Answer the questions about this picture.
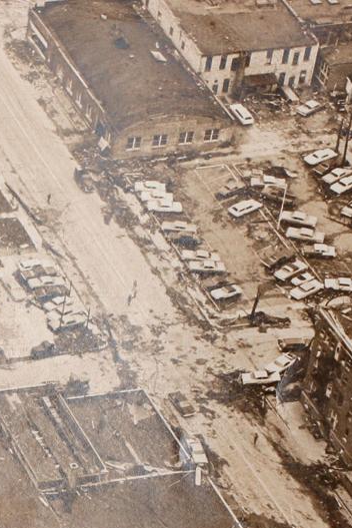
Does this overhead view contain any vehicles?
Yes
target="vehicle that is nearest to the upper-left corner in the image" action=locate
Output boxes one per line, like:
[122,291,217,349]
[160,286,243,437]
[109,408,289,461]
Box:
[74,170,92,192]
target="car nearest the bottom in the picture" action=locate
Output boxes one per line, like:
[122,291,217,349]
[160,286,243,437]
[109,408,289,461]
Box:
[186,437,208,465]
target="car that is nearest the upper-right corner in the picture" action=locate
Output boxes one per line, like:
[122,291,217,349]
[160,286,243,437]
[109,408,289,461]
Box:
[294,97,324,115]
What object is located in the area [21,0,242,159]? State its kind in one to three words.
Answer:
building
